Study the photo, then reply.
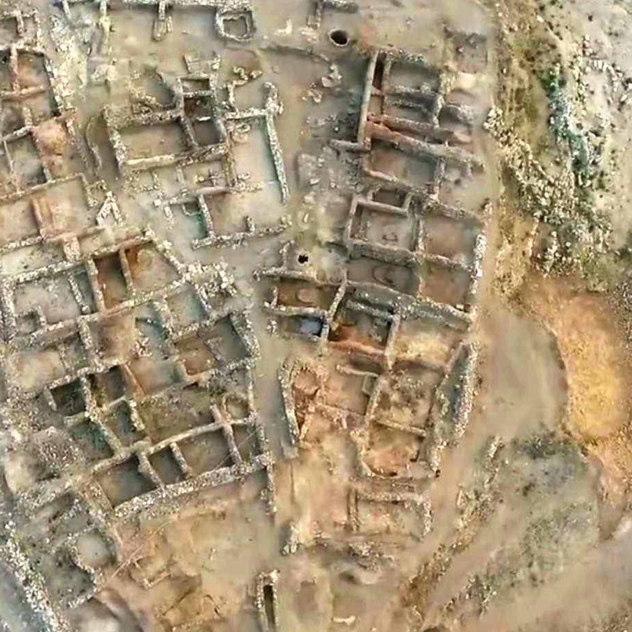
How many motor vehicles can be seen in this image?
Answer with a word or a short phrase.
0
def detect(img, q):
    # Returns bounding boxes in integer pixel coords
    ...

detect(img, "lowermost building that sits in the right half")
[348,490,434,532]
